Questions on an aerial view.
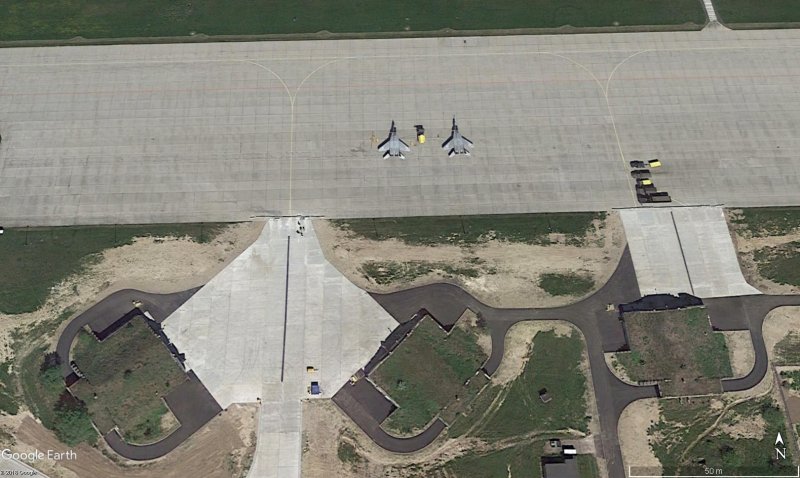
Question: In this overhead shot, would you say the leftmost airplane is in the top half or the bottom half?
top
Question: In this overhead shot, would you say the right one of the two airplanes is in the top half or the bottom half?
top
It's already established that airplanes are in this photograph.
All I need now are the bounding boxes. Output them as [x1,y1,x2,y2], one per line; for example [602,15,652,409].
[379,124,411,160]
[442,120,474,156]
